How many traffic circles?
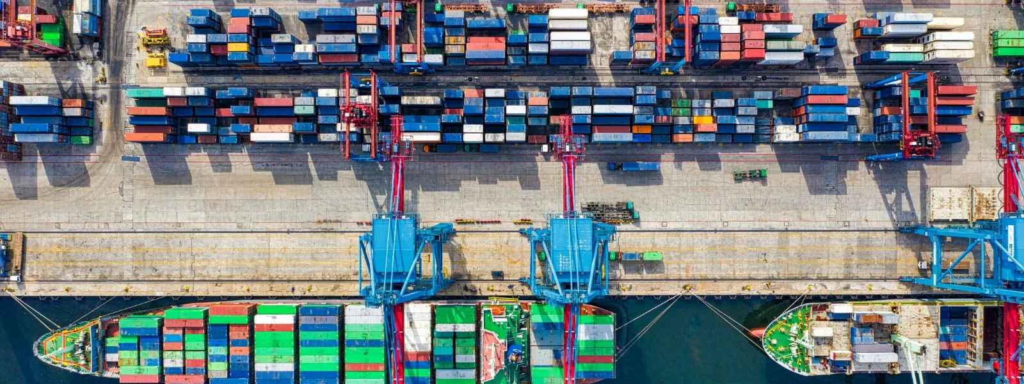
0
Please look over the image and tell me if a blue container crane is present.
Yes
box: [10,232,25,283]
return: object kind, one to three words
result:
vehicle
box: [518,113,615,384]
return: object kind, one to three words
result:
container crane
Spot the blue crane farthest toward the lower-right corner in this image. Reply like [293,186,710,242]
[898,112,1024,384]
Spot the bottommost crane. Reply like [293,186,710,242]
[890,332,928,384]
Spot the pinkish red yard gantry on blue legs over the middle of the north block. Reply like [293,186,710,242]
[637,0,693,76]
